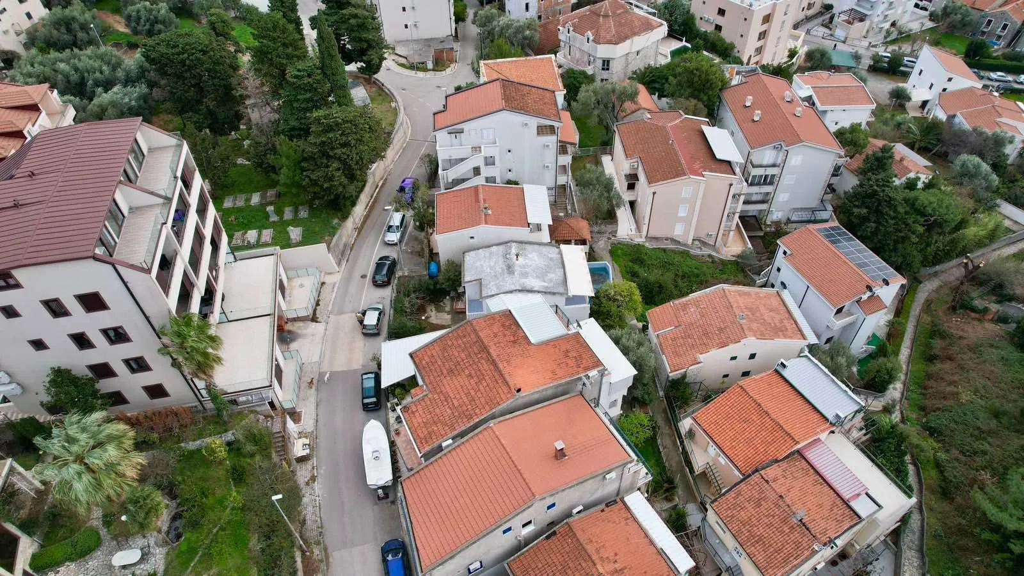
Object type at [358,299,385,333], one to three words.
car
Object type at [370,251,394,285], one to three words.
car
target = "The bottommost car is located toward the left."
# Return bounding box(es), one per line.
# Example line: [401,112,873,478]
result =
[377,532,408,576]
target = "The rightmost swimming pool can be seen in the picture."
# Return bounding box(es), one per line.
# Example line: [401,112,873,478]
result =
[587,261,613,288]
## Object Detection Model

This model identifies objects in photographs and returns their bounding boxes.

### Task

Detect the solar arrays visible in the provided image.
[817,225,900,281]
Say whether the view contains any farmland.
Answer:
No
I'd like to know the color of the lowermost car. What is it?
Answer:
blue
